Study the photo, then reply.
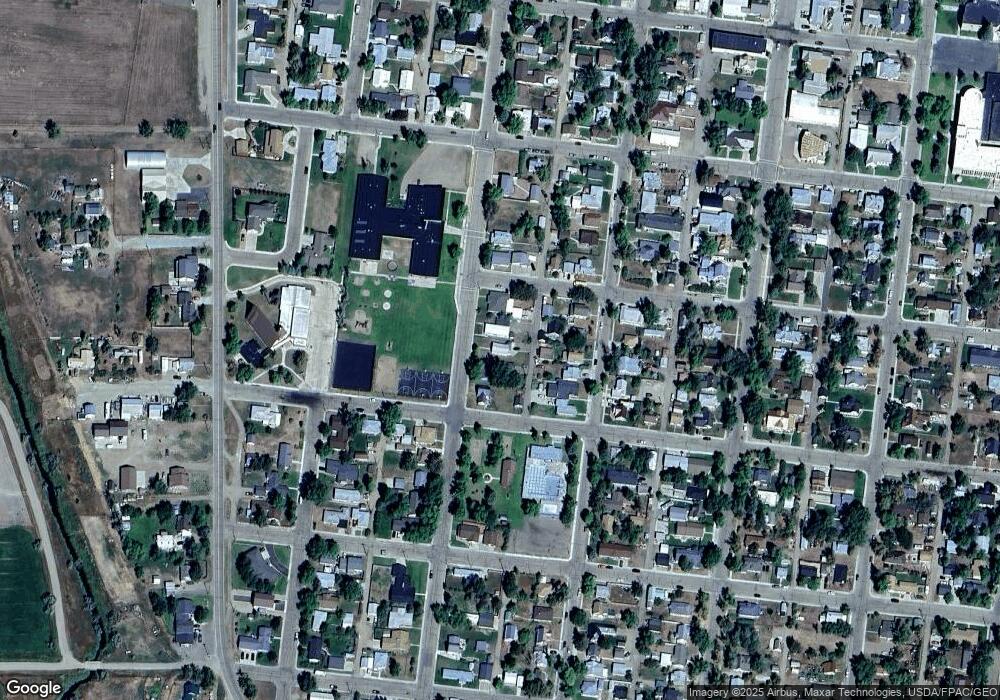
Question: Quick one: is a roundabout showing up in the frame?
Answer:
No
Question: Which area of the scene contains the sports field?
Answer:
center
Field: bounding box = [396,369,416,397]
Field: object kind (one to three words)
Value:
basketball court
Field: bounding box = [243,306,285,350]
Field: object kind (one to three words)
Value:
building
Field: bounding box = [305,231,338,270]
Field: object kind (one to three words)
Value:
house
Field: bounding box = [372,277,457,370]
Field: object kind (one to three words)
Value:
sports field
